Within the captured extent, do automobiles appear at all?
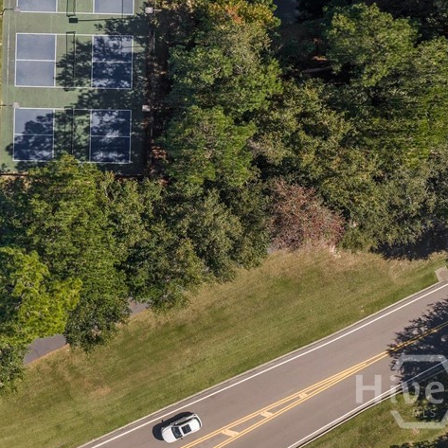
Yes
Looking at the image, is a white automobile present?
Yes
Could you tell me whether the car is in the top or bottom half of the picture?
bottom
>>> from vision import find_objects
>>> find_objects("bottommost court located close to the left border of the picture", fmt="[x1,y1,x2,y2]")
[0,98,148,174]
